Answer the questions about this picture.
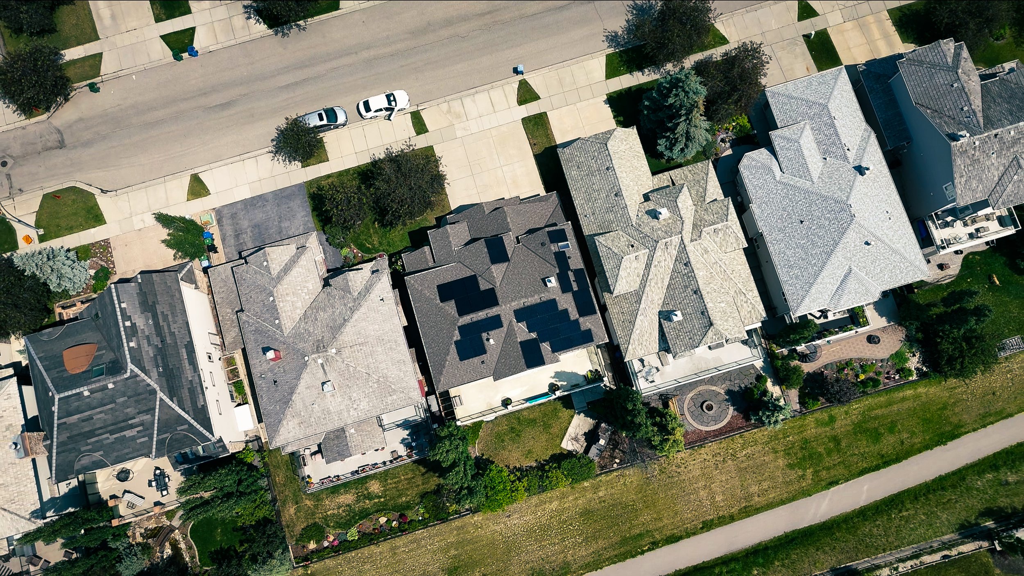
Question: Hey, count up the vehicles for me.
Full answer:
I count 2 vehicles.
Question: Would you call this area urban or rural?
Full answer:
It looks urban.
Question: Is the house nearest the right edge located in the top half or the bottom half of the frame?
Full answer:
The house nearest the right edge sits in the top half of the picture.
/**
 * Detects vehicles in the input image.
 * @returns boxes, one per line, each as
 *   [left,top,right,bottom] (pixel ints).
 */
[290,100,354,132]
[356,89,413,125]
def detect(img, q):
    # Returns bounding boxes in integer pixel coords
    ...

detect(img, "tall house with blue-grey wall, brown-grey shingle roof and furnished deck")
[850,38,1024,223]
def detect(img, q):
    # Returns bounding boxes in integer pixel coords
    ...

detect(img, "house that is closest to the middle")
[401,191,609,392]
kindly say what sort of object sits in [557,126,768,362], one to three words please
house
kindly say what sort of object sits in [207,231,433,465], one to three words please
house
